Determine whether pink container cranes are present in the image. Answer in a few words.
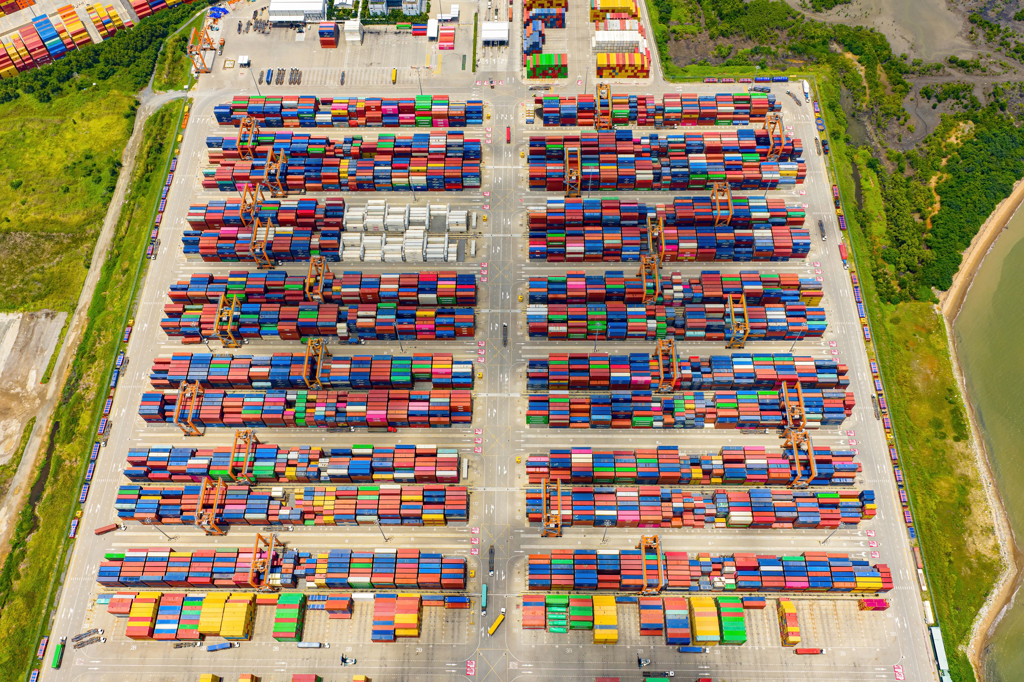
No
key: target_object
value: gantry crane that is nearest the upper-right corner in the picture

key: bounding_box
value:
[763,115,789,164]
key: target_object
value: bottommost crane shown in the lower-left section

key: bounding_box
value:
[246,532,286,594]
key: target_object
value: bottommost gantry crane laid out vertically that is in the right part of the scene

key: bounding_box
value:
[634,533,665,596]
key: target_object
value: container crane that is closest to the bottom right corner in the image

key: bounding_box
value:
[778,430,816,489]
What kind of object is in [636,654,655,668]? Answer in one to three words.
work vehicle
